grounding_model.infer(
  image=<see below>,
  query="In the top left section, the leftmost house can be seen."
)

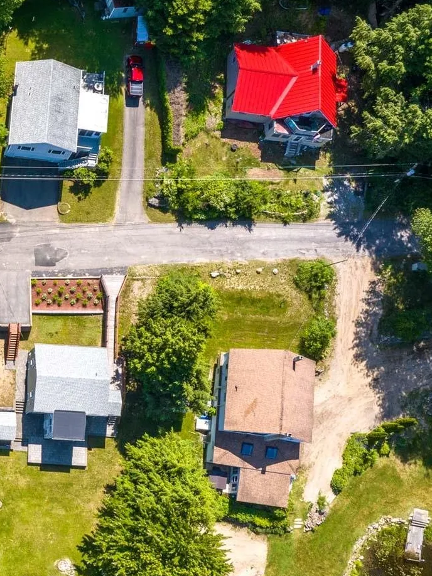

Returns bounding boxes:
[7,58,108,179]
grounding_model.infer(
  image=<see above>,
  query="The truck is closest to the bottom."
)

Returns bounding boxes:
[126,54,147,99]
